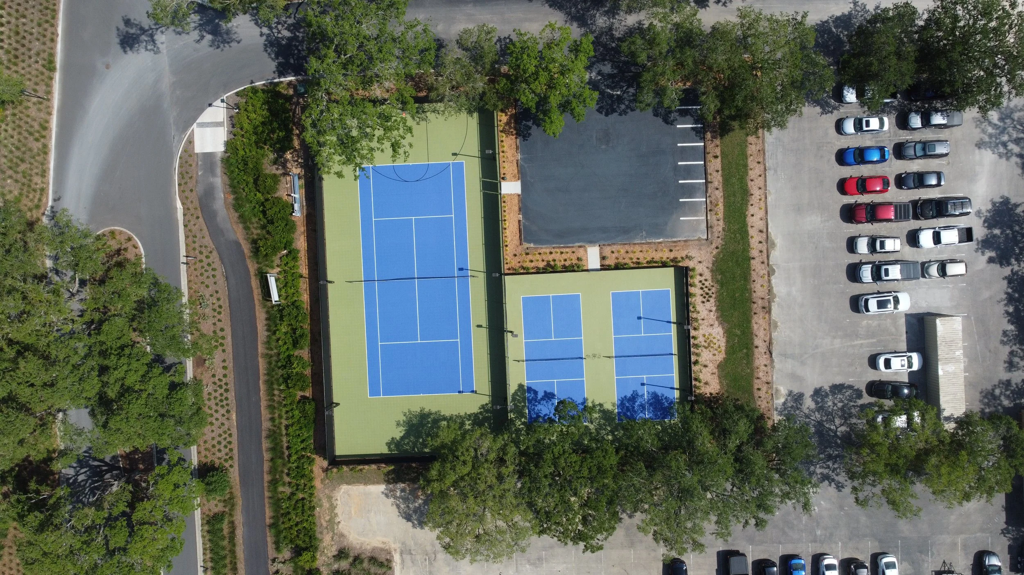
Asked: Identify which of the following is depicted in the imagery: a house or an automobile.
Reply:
automobile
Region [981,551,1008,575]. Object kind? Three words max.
car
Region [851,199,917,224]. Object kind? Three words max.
truck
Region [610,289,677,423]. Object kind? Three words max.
sports court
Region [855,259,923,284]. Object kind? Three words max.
truck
